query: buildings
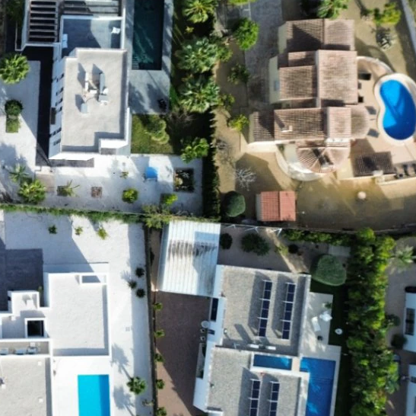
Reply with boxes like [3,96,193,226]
[0,272,111,416]
[399,290,416,416]
[241,19,394,179]
[197,265,311,416]
[18,0,128,158]
[250,191,296,221]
